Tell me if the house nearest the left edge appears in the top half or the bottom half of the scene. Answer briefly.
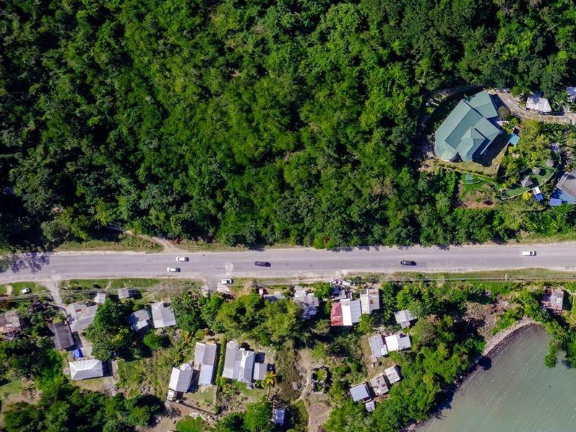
bottom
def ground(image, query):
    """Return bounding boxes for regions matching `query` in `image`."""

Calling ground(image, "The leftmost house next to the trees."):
[0,311,24,341]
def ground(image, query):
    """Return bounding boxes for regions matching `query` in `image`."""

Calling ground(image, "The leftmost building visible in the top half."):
[433,90,499,160]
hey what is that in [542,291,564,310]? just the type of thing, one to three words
house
